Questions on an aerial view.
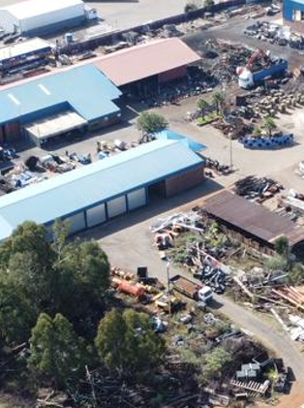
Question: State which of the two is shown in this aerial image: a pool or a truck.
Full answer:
The one in the frame is a truck.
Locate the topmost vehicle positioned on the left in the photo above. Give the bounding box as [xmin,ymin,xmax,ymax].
[84,6,103,19]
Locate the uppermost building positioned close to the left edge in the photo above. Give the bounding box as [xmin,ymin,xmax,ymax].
[0,0,85,40]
